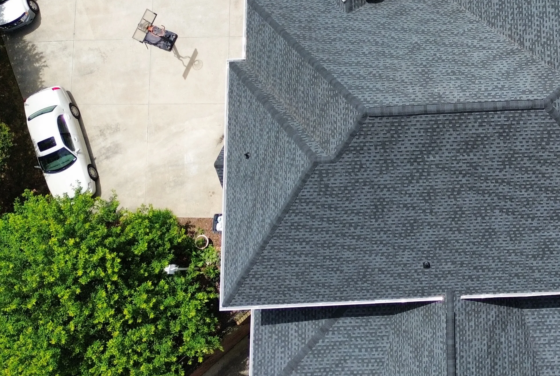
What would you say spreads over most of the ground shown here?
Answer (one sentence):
The scene is dominated by buildings.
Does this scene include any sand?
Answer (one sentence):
No, no sand is visible.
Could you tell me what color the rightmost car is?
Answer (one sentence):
From above, the rightmost car appears white.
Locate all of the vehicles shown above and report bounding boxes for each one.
[21,88,98,207]
[0,0,38,36]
